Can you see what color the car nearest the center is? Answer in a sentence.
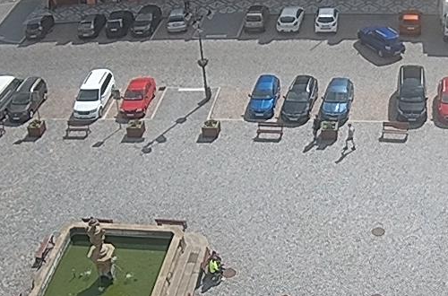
From above, the car nearest the center appears blue.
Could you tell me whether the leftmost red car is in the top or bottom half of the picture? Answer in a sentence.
You can find the leftmost red car in the top half.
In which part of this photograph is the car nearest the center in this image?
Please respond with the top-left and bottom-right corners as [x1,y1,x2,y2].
[246,74,282,114]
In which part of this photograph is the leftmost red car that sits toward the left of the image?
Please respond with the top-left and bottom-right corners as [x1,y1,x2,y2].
[118,75,156,114]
